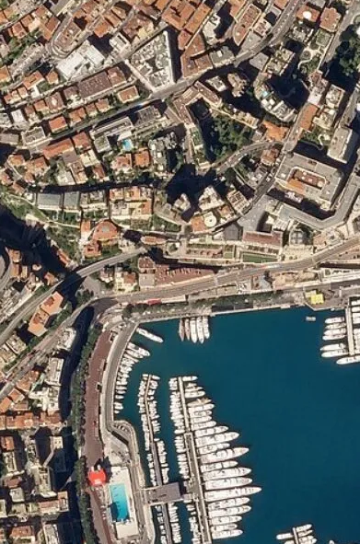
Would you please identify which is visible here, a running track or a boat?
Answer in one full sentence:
Visible in the photo is a boat.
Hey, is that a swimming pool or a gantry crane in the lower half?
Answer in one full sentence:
The one visible in the lower half is a swimming pool.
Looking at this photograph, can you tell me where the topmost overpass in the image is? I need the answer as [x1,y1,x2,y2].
[0,245,150,339]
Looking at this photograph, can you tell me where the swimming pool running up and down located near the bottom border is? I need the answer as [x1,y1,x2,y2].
[107,467,138,539]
